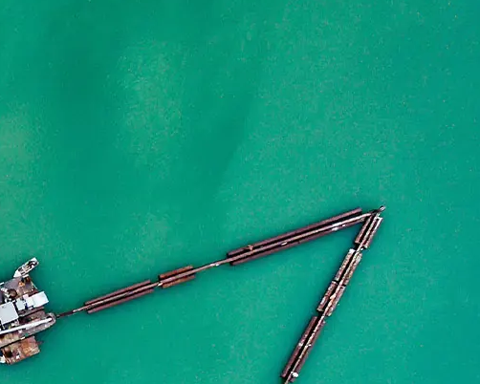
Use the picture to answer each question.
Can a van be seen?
No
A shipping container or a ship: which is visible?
ship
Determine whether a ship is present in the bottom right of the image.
No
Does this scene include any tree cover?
No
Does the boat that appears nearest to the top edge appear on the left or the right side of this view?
left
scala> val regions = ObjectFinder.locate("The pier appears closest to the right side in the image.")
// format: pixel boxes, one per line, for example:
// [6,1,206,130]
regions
[354,215,382,250]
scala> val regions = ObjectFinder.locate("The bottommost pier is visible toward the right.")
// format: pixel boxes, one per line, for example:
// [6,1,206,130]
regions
[280,315,326,384]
